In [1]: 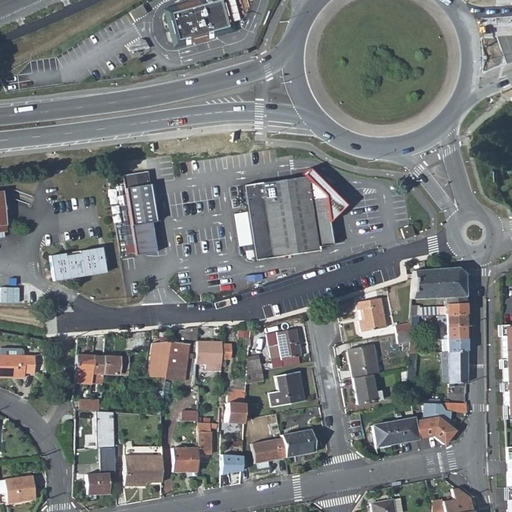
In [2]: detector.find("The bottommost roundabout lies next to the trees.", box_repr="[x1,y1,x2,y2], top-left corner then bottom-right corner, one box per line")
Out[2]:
[446,204,502,260]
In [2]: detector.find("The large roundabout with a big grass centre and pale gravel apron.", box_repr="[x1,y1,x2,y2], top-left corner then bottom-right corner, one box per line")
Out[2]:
[282,0,482,159]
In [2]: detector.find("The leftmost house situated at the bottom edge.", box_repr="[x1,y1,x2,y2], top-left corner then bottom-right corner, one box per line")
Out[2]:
[5,474,36,504]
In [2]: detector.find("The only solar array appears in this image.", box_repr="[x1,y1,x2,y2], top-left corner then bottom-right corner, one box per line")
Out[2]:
[276,334,290,358]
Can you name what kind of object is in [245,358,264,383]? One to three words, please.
shed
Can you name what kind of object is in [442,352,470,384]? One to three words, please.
house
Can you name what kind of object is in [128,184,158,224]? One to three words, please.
building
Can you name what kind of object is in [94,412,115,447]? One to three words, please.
building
